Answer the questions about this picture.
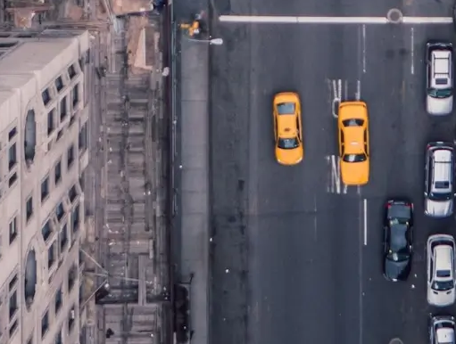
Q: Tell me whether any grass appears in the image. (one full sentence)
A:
No, grass can't be seen anywhere here.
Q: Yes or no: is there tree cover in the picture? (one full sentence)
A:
No, no tree cover is visible.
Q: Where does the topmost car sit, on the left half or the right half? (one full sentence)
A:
The topmost car sits on the right side.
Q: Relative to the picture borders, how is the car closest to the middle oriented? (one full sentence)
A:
I'd say the car closest to the middle is aligned vertically in the picture.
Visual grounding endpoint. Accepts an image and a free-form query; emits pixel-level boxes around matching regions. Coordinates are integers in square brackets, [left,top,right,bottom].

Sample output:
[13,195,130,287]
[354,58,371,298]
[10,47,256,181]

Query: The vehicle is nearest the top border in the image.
[424,40,456,115]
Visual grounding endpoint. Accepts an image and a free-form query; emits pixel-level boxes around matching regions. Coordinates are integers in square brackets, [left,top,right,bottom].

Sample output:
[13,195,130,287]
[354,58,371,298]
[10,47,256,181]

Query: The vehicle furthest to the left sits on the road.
[272,89,306,165]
